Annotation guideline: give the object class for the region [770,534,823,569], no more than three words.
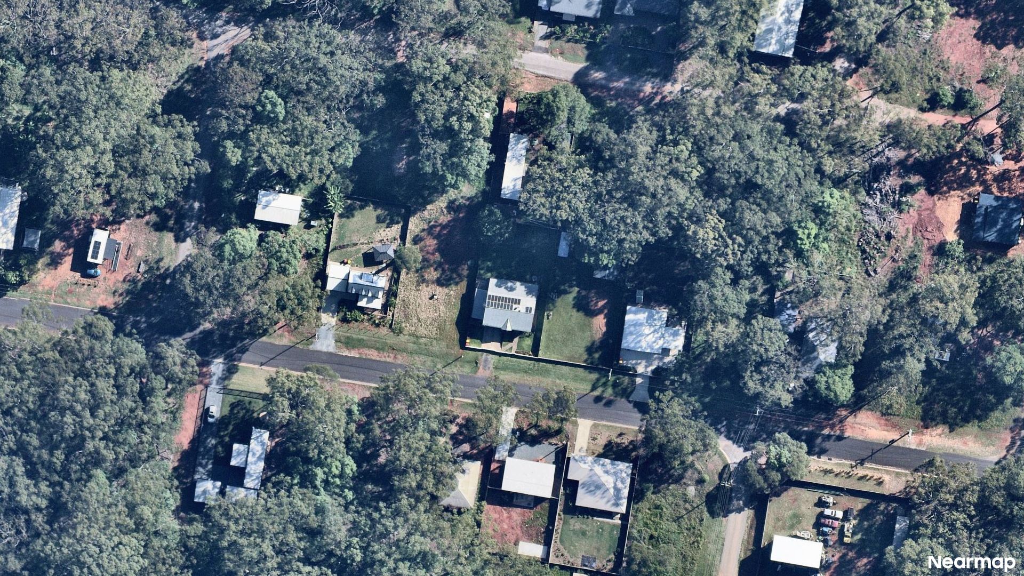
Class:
shed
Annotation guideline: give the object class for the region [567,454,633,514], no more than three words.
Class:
house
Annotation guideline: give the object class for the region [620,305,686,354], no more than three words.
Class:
house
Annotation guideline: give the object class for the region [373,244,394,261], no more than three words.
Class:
gazebo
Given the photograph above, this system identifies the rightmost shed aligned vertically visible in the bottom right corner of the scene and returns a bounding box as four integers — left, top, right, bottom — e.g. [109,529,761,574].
[893,516,909,547]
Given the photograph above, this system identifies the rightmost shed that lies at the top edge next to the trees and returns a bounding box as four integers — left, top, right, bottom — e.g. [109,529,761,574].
[754,0,804,57]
